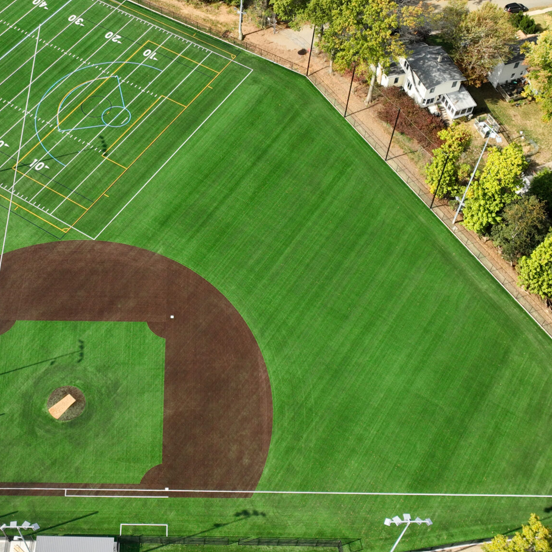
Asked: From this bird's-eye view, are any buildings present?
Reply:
Yes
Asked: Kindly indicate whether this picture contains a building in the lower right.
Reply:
No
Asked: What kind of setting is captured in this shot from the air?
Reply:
sports ground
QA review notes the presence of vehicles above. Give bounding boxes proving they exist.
[503,0,529,14]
